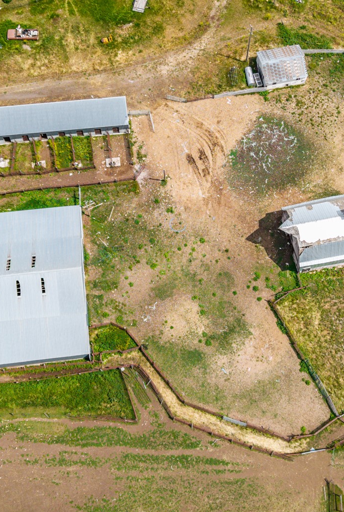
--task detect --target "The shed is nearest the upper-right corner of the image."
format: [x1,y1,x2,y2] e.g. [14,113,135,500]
[250,42,307,93]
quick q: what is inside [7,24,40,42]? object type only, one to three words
vehicle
